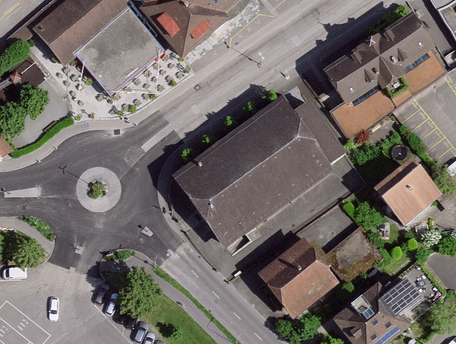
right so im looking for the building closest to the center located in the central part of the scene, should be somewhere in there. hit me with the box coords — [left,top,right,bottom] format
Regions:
[172,95,334,251]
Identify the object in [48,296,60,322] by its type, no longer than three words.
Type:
vehicle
